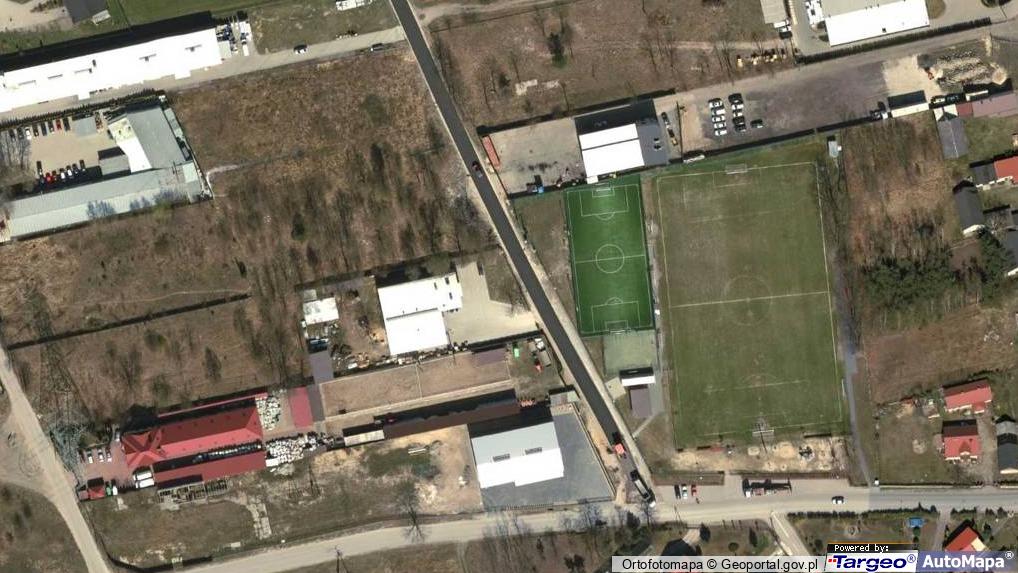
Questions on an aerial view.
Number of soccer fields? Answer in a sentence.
My tally gives 2 soccer fields in this view.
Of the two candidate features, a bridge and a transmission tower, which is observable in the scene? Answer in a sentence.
I can see a transmission tower in this picture.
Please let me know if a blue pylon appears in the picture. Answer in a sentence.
No, I can't see a single blue pylon in this photo.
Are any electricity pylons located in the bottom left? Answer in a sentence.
Yes, looking in the bottom left, one can make out an electricity pylon.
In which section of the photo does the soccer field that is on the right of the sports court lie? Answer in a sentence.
The soccer field that is on the right of the sports court is in the right part of the image.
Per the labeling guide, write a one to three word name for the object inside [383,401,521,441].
building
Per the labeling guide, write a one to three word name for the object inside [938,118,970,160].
barn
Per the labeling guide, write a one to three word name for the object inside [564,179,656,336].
soccer field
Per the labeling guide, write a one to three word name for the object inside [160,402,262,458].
house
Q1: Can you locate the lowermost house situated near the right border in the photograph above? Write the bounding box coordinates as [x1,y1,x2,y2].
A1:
[945,527,993,573]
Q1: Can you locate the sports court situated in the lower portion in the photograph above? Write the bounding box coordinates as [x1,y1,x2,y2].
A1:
[604,331,656,376]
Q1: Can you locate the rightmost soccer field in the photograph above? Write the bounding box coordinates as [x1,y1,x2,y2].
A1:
[655,160,848,447]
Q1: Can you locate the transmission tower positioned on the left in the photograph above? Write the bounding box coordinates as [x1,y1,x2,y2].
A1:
[33,424,89,458]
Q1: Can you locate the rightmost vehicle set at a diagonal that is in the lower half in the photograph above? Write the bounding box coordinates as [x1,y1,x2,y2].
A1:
[631,474,655,505]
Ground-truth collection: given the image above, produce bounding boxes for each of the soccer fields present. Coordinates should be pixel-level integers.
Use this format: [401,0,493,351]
[655,160,848,447]
[564,179,656,336]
